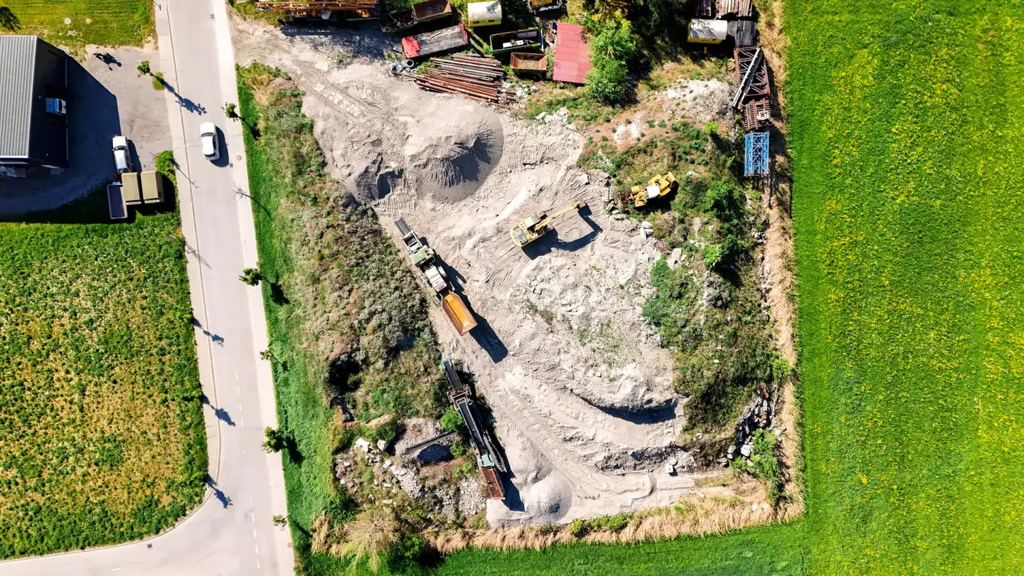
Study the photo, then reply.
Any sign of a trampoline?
No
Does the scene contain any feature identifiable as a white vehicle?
Yes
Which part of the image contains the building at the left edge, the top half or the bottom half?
top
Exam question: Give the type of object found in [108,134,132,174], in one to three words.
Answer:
car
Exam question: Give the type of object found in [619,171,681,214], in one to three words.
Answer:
work vehicle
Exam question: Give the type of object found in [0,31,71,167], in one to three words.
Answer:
building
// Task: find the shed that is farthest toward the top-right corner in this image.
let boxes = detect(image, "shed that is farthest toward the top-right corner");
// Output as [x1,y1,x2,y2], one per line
[687,22,726,46]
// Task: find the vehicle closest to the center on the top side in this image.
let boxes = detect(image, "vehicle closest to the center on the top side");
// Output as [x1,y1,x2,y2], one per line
[506,198,582,250]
